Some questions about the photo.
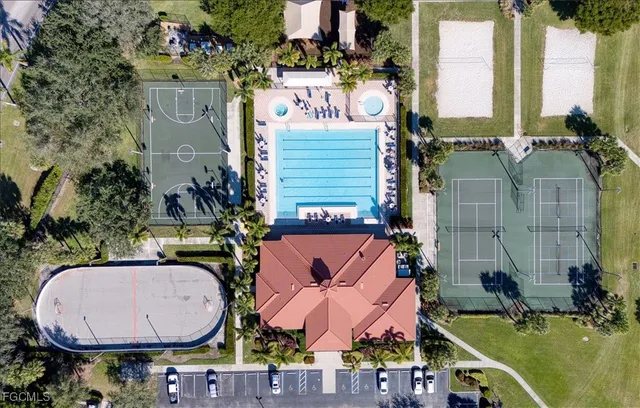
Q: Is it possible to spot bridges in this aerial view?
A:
No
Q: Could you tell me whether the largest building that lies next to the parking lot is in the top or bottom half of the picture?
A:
bottom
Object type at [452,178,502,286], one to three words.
tennis court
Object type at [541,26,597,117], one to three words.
sports court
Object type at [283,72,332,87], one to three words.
building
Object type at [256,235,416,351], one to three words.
building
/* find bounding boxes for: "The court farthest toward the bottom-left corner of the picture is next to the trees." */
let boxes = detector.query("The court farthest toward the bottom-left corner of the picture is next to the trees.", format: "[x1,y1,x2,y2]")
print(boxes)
[34,264,226,351]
